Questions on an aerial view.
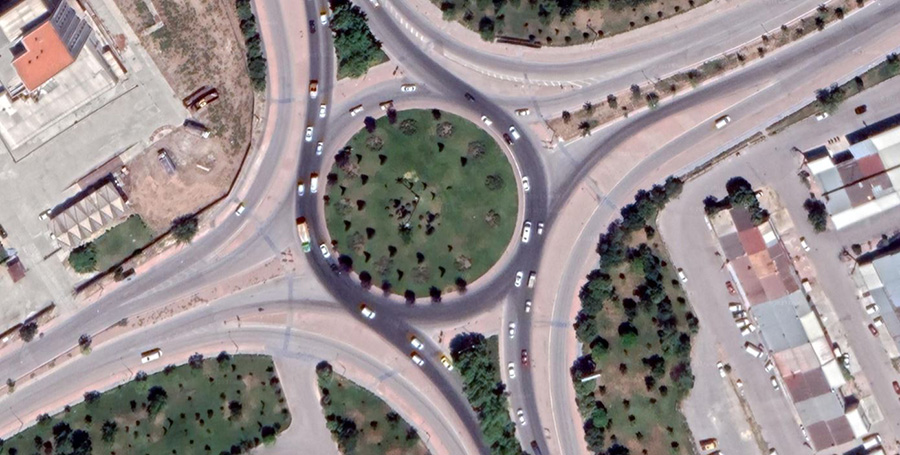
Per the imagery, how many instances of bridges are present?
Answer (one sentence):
The photo contains no bridges.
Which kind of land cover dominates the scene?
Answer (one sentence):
For the most part, this view shows paved ground.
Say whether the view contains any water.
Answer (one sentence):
No, water can't be seen anywhere here.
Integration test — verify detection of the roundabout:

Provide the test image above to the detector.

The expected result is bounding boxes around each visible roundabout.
[316,0,548,321]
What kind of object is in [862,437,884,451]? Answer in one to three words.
vehicle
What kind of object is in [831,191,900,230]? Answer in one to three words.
building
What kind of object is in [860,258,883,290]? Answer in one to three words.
building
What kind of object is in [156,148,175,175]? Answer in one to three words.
vehicle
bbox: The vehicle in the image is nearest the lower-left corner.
[140,349,163,363]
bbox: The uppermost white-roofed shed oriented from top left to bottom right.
[104,47,127,77]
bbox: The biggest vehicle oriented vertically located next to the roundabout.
[296,219,311,254]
